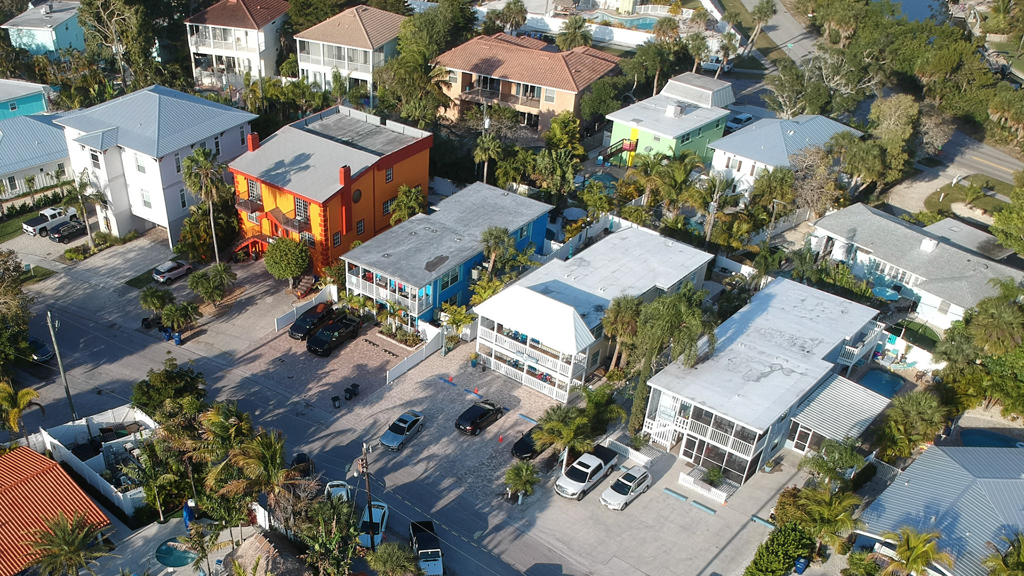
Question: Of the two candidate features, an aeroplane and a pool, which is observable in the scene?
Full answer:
I can see a pool in this picture.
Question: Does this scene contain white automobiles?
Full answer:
Yes, this view includes a white automobile.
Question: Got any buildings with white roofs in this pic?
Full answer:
Yes, the photo shows a building with a white roof.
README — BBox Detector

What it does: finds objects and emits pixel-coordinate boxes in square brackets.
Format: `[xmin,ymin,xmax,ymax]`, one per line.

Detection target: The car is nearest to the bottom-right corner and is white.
[606,464,653,507]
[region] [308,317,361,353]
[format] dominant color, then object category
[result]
black truck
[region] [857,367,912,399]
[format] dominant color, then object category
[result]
blue swimming pool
